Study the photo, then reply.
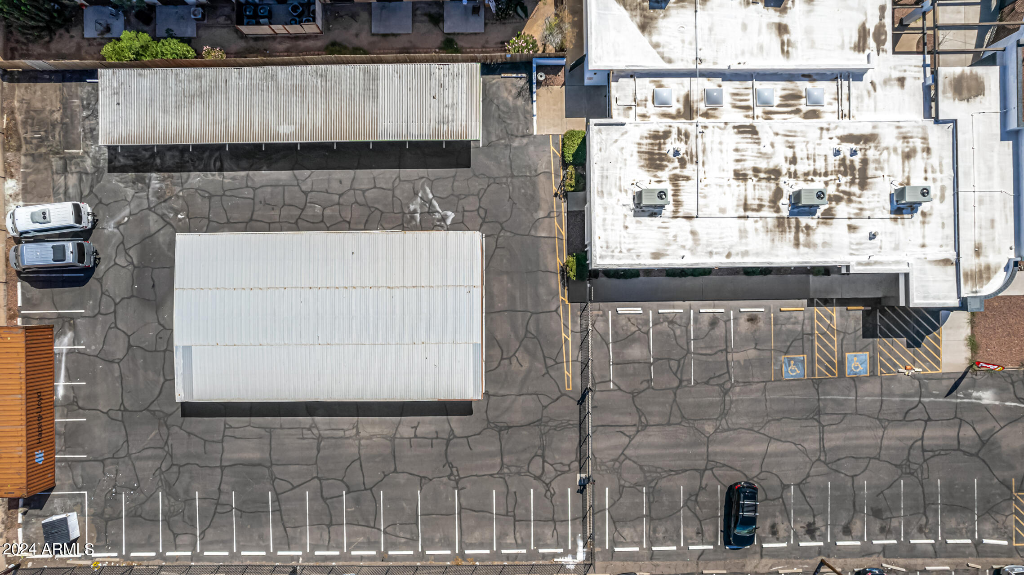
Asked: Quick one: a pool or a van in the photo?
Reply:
van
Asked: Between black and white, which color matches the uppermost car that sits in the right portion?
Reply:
black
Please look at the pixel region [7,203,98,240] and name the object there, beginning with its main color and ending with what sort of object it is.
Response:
white van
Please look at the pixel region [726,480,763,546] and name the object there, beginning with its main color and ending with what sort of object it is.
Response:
black car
